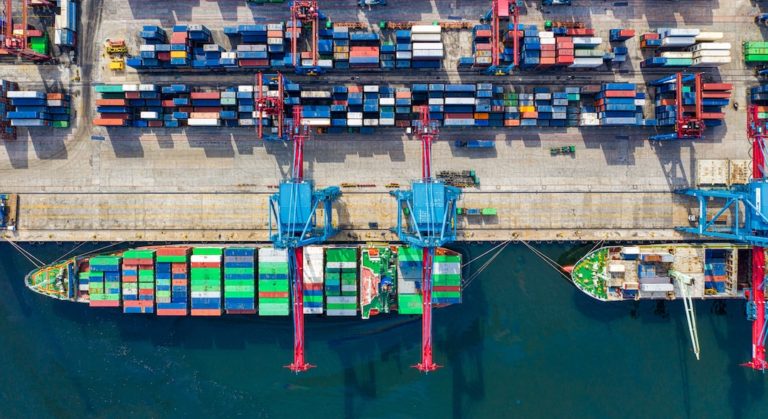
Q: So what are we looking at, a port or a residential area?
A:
port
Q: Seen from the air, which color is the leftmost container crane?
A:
red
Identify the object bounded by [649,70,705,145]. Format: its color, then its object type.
red container crane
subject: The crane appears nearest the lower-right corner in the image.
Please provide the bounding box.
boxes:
[673,103,768,373]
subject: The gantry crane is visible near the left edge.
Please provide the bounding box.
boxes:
[2,0,62,61]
